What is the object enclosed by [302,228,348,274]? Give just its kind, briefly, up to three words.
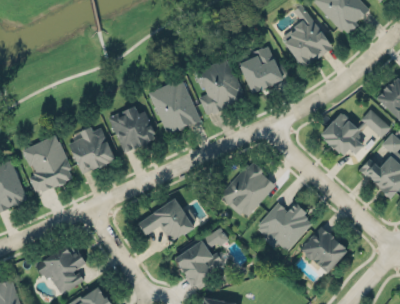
house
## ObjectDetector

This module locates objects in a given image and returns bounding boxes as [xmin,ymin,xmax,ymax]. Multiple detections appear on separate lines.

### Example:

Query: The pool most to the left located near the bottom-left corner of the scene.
[35,276,56,302]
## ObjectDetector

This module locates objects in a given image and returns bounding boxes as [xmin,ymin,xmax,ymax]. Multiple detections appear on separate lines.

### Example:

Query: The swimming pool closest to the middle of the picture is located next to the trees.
[190,200,208,229]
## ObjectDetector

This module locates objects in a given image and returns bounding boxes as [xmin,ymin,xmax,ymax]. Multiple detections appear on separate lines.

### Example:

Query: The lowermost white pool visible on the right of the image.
[296,257,326,284]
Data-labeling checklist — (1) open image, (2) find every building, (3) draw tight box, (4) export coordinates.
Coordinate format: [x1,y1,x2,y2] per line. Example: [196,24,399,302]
[150,79,202,134]
[320,108,393,160]
[0,162,26,212]
[258,204,316,255]
[360,132,400,200]
[241,46,284,94]
[225,166,278,220]
[283,6,332,66]
[378,80,400,122]
[0,280,22,304]
[315,0,370,36]
[72,288,110,304]
[24,138,73,188]
[206,228,228,250]
[302,228,348,274]
[174,240,214,292]
[196,62,242,117]
[72,129,113,173]
[110,105,154,151]
[38,248,90,298]
[136,198,195,242]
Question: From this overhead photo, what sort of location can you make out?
residential area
